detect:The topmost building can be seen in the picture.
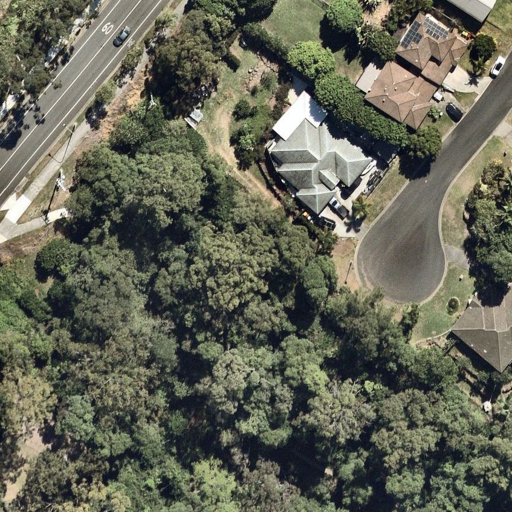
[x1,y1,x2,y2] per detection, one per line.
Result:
[445,0,497,24]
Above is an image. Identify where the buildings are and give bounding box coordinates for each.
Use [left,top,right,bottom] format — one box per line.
[271,93,373,215]
[451,287,512,373]
[356,62,438,130]
[395,14,468,86]
[445,0,497,24]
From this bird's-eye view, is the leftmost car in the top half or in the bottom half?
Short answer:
top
